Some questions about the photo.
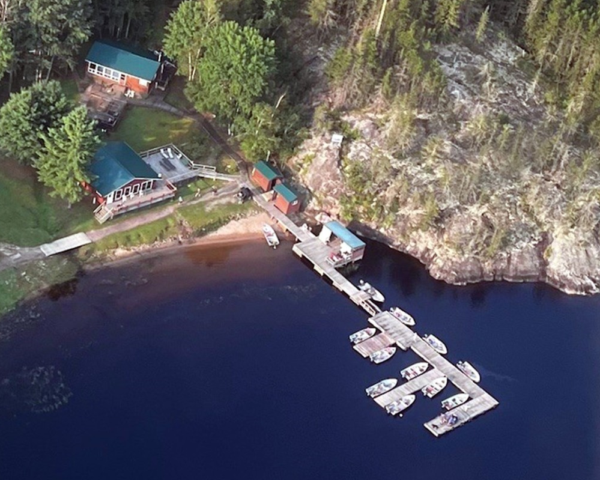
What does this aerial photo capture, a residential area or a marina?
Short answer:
marina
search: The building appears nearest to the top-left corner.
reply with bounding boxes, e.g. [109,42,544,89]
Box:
[85,39,177,99]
